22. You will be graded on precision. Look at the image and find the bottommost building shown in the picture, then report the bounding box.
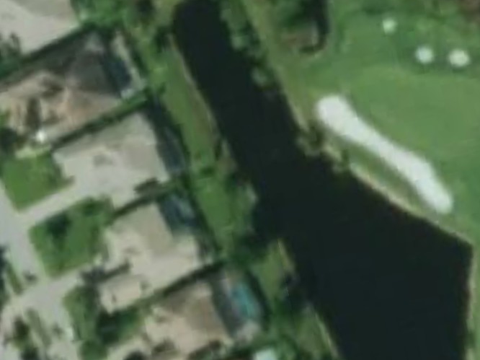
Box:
[144,288,232,360]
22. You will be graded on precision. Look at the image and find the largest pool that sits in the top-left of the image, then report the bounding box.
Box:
[101,36,145,100]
